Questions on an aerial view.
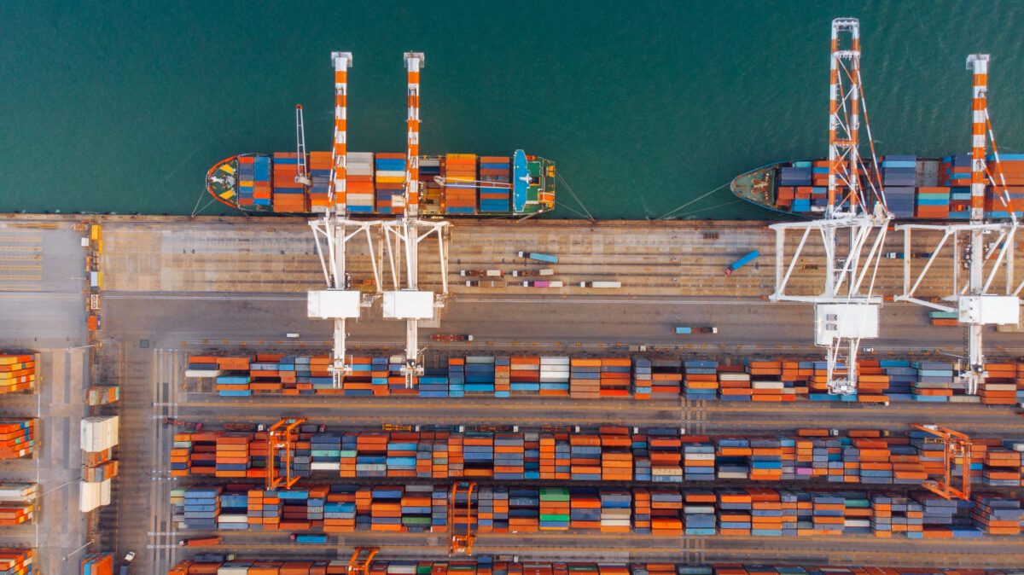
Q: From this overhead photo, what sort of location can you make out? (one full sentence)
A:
This image shows a port.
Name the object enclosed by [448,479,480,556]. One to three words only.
container crane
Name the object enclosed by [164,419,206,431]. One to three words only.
vehicle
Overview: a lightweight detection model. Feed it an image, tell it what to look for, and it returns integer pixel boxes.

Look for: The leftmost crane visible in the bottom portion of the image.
[268,417,311,489]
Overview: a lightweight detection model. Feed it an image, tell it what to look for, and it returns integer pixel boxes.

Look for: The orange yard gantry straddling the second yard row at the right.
[912,423,972,495]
